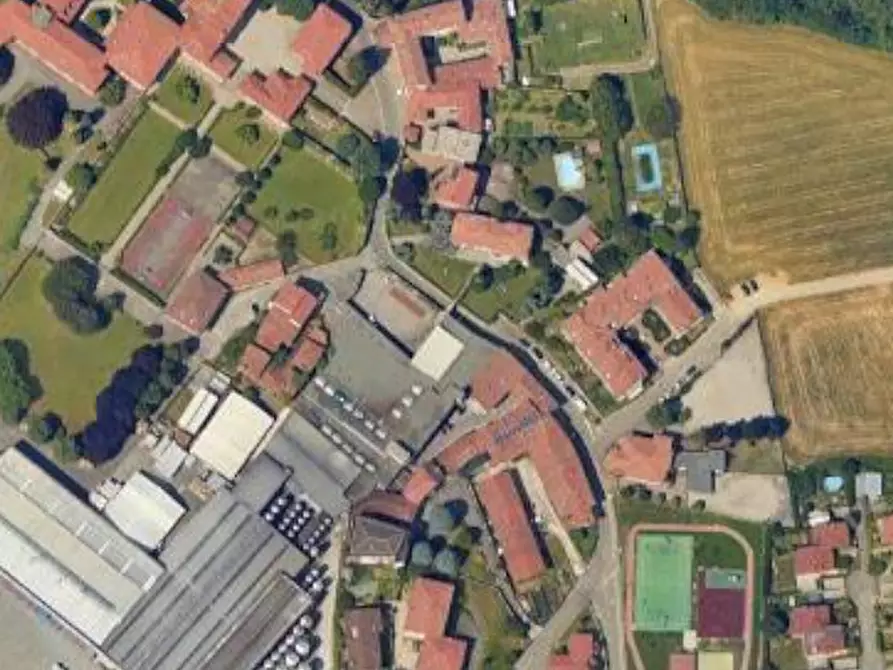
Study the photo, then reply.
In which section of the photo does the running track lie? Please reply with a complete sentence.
Look in the bottom right portion of the view to spot the running track.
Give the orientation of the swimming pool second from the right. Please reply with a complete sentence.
In this picture, the swimming pool second from the right is oriented up and down.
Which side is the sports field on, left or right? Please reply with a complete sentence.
The sports field sits on the right side.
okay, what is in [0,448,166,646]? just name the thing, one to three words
building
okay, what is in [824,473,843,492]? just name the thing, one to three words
swimming pool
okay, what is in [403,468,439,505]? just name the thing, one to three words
house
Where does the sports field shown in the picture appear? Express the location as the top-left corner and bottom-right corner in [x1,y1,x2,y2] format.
[615,491,766,670]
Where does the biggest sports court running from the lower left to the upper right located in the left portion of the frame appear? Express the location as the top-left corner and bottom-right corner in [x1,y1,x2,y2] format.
[119,154,249,302]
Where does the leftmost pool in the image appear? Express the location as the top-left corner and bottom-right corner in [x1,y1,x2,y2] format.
[553,151,585,192]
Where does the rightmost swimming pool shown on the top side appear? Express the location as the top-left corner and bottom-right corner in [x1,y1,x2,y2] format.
[632,143,660,191]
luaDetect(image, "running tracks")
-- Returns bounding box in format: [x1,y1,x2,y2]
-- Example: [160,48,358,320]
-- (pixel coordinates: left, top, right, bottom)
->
[628,523,753,670]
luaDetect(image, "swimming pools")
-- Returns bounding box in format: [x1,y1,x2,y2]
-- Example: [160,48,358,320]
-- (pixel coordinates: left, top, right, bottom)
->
[632,143,660,191]
[824,473,843,492]
[553,151,585,192]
